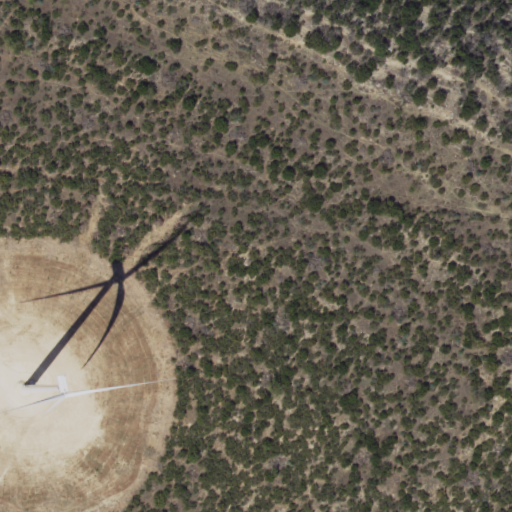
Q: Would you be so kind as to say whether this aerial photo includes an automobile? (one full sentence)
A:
No, there's no automobile here.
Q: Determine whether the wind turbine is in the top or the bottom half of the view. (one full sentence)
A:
It is in the bottom half that the wind turbine appears.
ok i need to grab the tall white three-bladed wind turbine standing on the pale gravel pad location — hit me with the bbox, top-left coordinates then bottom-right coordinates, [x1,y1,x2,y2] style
[0,374,164,409]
